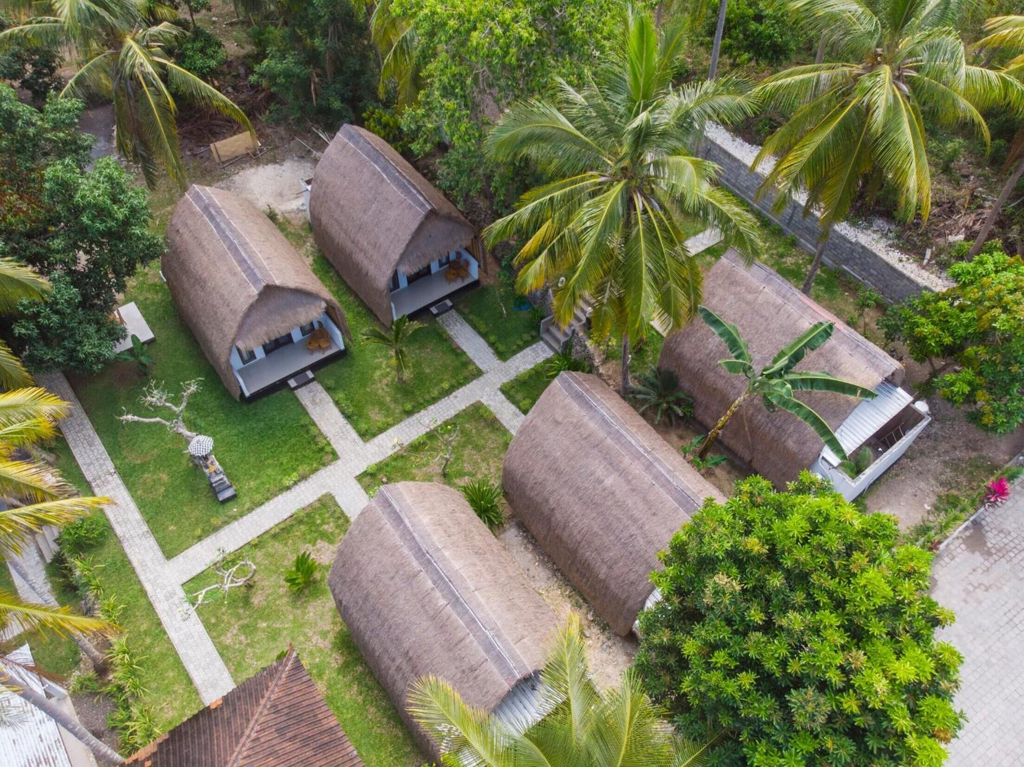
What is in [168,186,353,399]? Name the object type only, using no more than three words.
shed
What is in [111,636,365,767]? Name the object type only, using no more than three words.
building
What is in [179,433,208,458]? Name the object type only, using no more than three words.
umbrella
